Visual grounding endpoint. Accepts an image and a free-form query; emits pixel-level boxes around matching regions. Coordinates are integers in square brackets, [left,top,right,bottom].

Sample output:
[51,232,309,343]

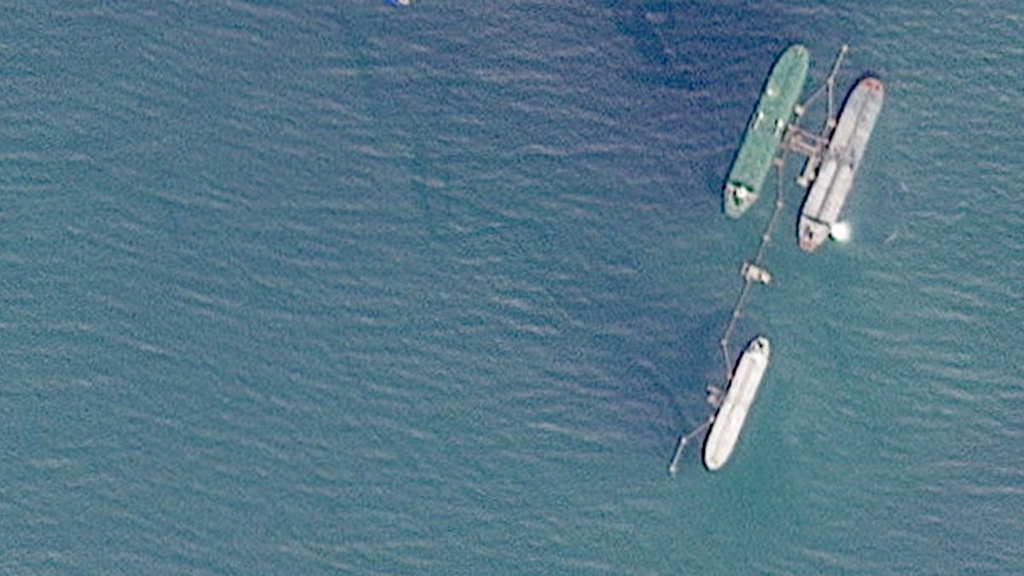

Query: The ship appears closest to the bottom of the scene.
[705,335,771,471]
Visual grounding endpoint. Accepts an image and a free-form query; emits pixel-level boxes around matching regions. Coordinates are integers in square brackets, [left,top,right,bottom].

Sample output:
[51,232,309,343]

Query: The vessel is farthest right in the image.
[799,77,883,253]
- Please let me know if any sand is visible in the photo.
No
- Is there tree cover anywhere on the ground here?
No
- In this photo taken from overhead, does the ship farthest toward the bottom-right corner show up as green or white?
white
